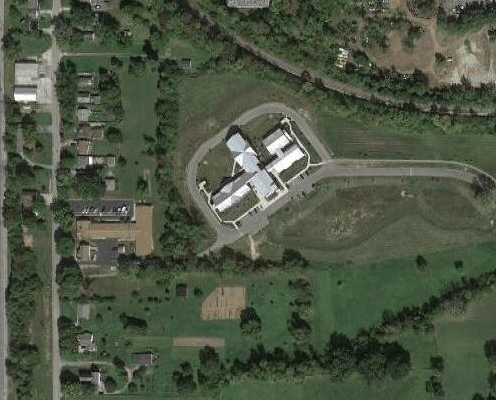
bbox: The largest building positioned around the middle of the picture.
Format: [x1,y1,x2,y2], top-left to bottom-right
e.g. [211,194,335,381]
[213,129,305,213]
